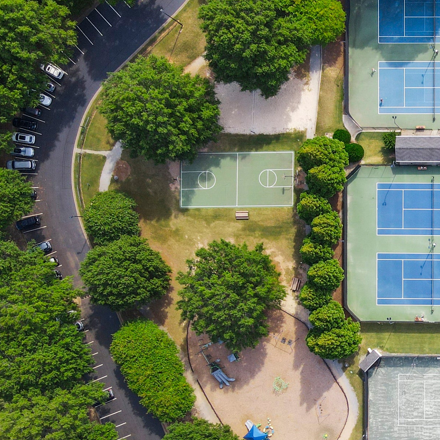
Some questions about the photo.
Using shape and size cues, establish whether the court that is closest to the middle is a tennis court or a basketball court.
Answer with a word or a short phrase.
basketball court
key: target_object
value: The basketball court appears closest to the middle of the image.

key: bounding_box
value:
[180,151,295,207]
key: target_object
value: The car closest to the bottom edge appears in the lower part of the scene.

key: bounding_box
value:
[90,390,114,405]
